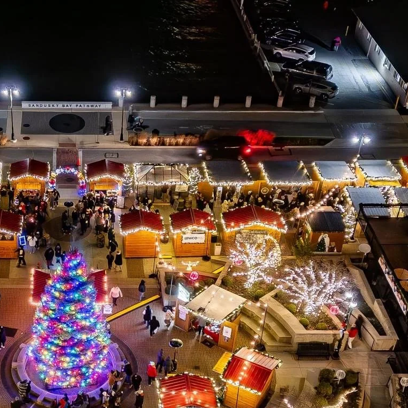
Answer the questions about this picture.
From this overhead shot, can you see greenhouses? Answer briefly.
Yes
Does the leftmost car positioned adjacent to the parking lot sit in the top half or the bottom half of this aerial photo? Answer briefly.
top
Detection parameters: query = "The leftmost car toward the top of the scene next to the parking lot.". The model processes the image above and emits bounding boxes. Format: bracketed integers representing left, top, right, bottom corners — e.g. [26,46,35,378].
[190,122,259,157]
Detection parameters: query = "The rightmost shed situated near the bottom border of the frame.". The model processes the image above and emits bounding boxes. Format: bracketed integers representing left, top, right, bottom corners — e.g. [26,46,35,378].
[213,347,281,408]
